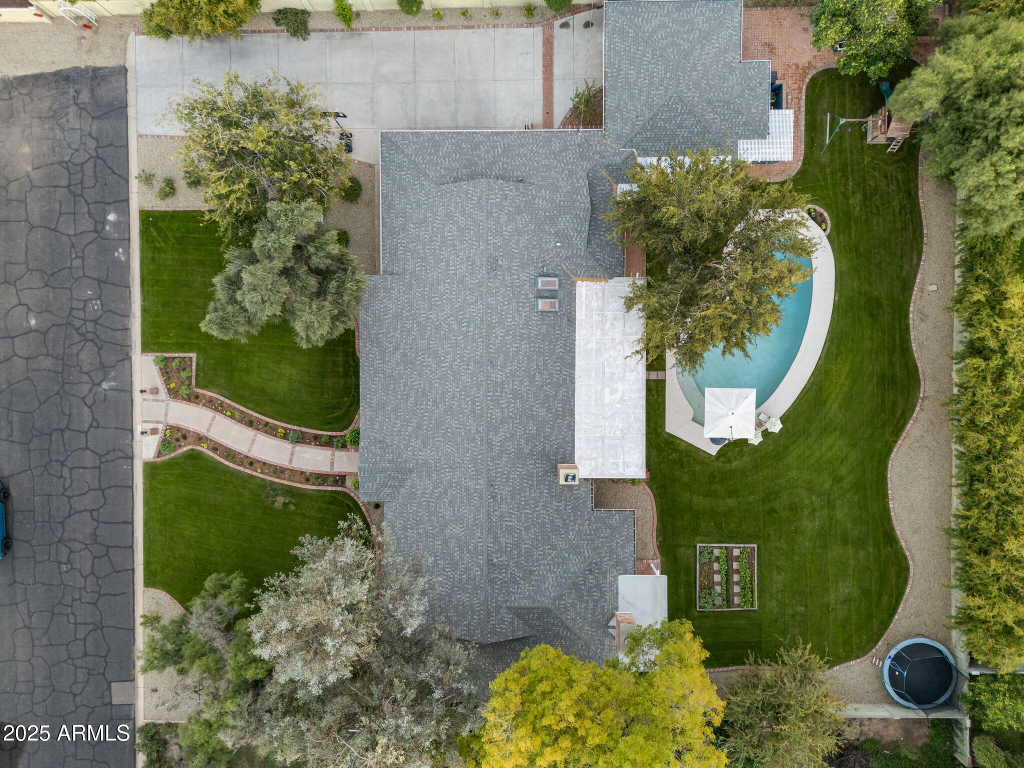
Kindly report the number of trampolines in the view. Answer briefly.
1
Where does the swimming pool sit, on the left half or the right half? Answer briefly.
right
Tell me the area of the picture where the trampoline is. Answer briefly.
bottom right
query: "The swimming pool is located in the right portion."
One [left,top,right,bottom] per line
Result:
[684,226,813,426]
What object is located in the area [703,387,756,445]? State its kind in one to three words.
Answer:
umbrella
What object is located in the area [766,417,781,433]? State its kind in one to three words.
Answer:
umbrella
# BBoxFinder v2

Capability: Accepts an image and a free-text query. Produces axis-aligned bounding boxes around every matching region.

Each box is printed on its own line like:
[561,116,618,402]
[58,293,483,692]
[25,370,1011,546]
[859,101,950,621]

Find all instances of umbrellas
[766,417,781,433]
[703,387,756,445]
[747,429,762,445]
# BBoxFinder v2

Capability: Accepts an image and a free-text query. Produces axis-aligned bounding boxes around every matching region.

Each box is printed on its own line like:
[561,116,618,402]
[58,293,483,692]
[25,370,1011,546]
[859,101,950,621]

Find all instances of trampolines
[876,631,966,718]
